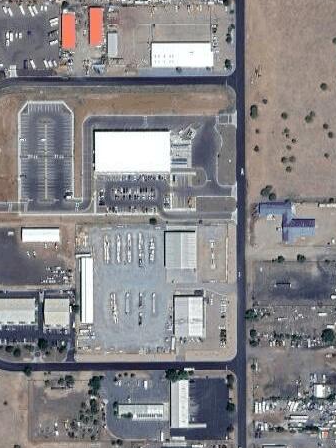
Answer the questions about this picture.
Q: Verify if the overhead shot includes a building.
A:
Yes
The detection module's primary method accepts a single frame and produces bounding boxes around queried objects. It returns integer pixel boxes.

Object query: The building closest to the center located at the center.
[166,232,196,268]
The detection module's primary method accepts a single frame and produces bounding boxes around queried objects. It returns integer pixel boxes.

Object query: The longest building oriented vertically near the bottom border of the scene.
[172,381,189,428]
